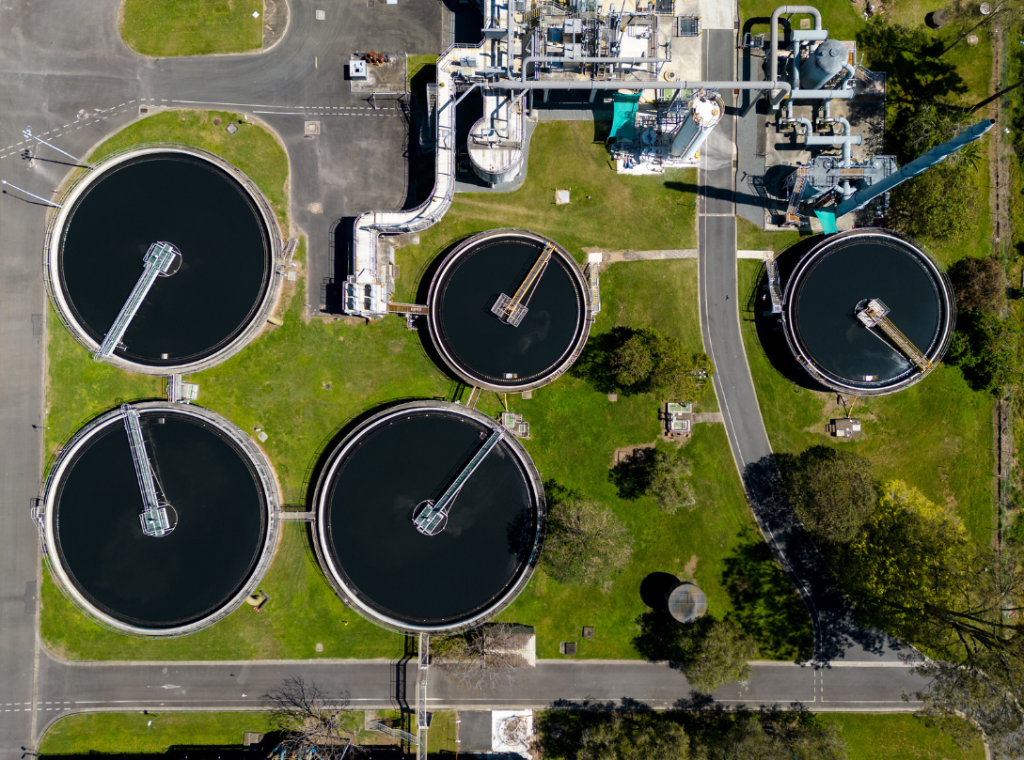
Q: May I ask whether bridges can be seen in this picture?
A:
Yes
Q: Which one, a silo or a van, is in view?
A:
silo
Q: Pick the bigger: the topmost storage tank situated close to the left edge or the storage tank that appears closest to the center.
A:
the topmost storage tank situated close to the left edge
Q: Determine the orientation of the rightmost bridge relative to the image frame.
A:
on a diagonal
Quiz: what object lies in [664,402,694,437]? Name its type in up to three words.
building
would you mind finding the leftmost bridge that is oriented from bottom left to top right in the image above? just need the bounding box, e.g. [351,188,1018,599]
[89,240,182,365]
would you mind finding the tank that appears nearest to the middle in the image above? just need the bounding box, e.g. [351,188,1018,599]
[426,226,592,393]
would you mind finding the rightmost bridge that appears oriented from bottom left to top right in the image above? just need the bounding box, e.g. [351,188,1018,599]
[490,238,559,327]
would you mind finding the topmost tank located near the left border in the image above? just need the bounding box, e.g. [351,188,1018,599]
[43,140,284,377]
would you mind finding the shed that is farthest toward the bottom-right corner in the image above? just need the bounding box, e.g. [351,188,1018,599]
[831,418,861,436]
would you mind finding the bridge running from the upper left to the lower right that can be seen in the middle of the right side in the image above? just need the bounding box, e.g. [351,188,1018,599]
[853,291,939,372]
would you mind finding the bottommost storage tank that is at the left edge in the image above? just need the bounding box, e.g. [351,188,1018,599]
[38,400,283,640]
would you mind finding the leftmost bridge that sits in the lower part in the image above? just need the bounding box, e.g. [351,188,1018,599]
[118,405,180,536]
